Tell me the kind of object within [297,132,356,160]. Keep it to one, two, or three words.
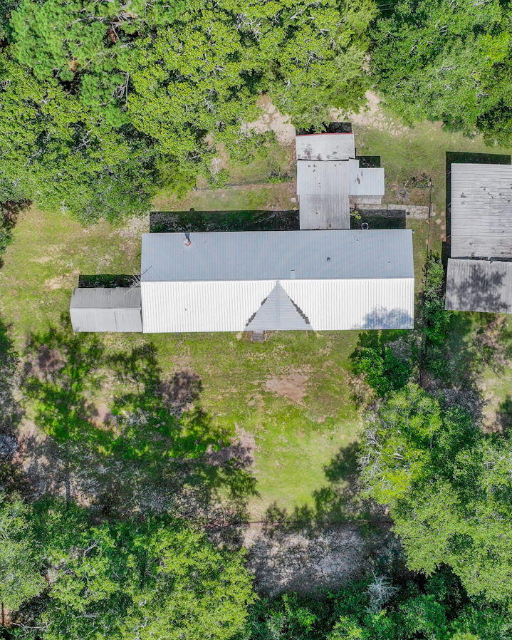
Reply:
shed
